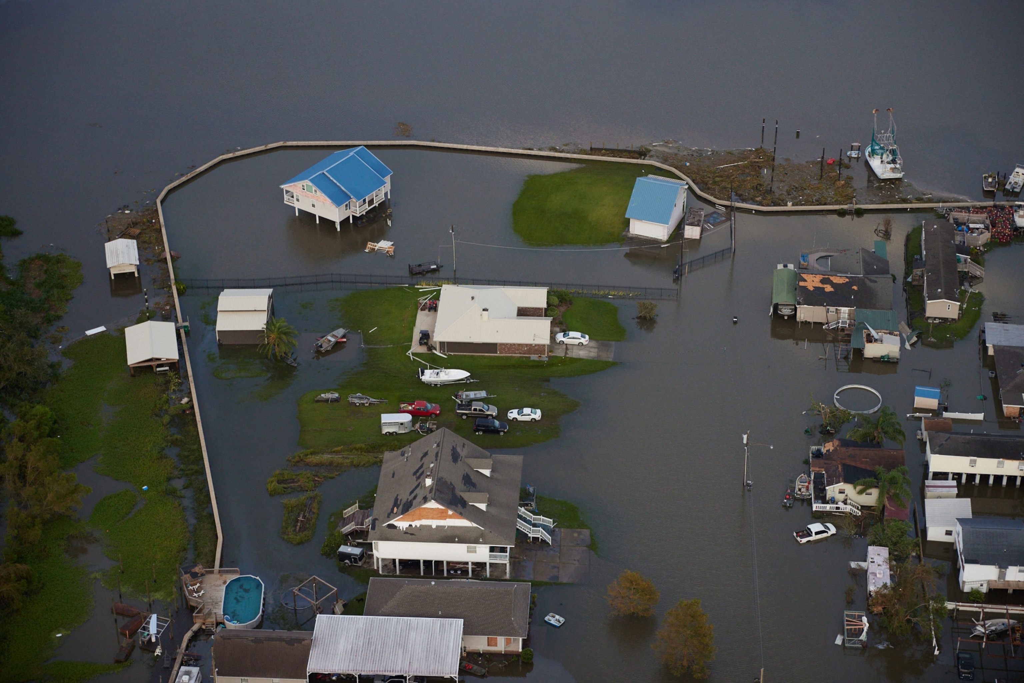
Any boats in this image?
Yes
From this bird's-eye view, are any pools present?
Yes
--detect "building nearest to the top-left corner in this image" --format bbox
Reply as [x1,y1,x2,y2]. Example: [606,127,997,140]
[105,238,139,280]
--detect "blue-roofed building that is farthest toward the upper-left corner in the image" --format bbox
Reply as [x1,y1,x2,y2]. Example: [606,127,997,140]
[279,145,395,232]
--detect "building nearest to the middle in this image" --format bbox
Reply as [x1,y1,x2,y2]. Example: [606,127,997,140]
[411,285,556,362]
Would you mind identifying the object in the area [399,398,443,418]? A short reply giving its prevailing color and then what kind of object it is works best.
red vehicle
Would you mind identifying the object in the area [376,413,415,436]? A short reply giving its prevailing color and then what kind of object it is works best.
white trailer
